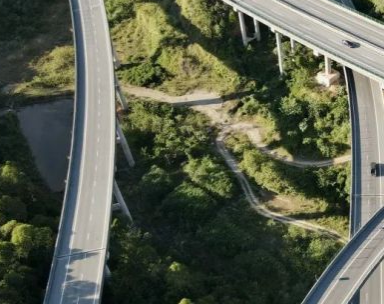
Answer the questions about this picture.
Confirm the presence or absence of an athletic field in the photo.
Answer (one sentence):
No, I can't see a single athletic field in this photo.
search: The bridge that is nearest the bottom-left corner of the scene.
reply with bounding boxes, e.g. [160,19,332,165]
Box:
[42,0,128,304]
